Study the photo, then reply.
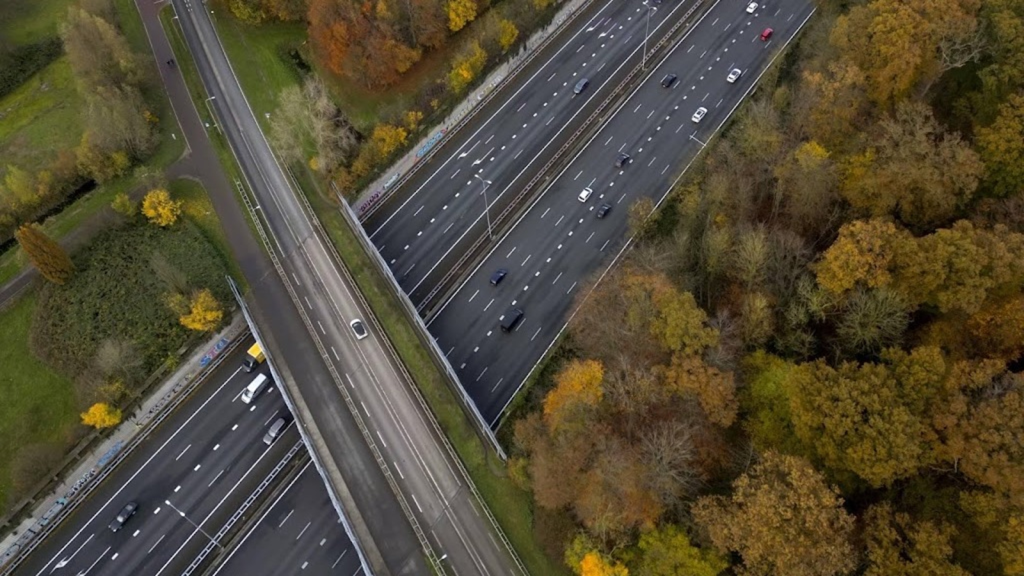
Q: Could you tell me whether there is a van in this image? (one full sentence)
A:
Yes, this view includes a van.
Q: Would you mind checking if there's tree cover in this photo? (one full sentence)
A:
Yes, tree cover can be seen from above here.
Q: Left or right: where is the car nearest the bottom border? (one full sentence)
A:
It is on the left.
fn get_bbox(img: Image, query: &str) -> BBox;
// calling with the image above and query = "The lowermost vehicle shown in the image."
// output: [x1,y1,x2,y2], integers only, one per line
[107,501,140,532]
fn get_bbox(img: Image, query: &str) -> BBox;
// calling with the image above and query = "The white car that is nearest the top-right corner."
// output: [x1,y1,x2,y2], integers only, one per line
[745,2,759,15]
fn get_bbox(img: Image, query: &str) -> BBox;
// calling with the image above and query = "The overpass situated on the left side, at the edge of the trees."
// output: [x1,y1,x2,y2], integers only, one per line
[231,193,507,576]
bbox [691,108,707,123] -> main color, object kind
white car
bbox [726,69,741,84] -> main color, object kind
white car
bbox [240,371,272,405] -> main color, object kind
white van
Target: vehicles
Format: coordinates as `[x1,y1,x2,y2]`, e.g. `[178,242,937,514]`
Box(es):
[595,203,613,221]
[691,108,707,123]
[745,2,759,15]
[726,69,741,84]
[239,337,268,376]
[651,0,664,8]
[614,153,630,169]
[350,318,370,342]
[107,501,140,532]
[661,75,676,89]
[260,418,289,446]
[498,308,523,333]
[488,268,509,289]
[577,188,594,204]
[760,29,772,42]
[240,371,272,405]
[573,77,590,94]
